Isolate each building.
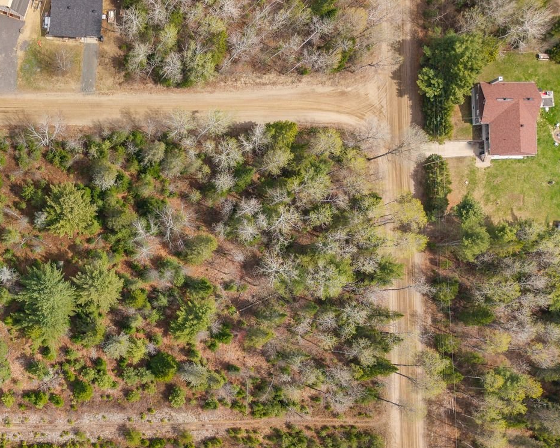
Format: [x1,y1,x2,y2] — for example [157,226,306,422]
[0,0,30,21]
[470,78,543,158]
[48,0,104,42]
